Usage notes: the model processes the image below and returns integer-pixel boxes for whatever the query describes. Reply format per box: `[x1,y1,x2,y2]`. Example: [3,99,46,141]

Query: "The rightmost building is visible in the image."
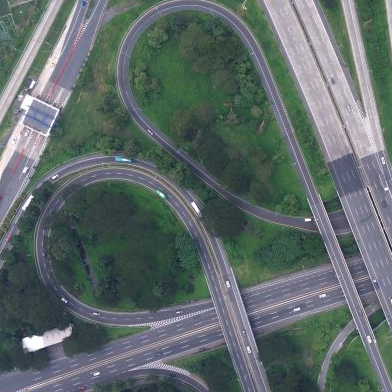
[43,323,73,346]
